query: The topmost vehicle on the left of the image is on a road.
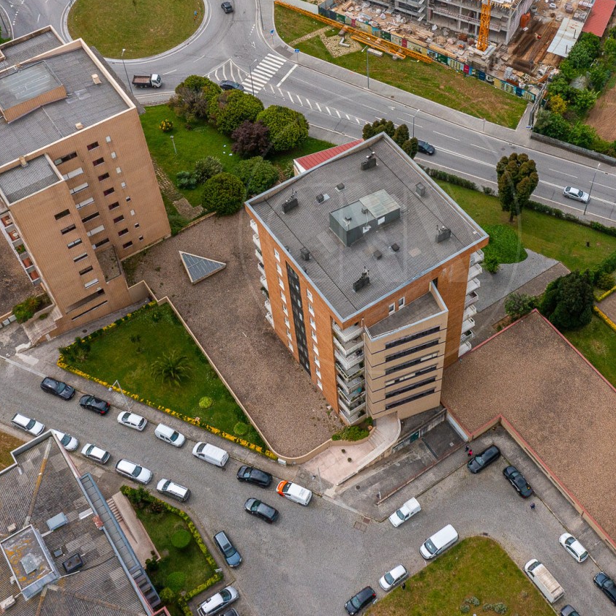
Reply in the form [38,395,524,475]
[219,1,235,17]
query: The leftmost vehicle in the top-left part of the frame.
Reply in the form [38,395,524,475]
[129,71,162,88]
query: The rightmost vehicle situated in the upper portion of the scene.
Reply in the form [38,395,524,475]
[561,185,592,203]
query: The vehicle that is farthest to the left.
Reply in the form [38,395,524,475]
[7,411,50,438]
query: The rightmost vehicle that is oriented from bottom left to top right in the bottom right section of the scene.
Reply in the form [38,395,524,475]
[464,441,504,477]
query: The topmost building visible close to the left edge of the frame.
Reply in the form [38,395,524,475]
[0,26,171,325]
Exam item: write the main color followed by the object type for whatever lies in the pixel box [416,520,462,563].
white van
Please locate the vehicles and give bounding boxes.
[499,463,537,502]
[189,440,231,470]
[7,411,50,438]
[342,583,381,616]
[114,413,150,435]
[209,528,245,570]
[51,423,82,451]
[77,442,113,466]
[37,377,78,402]
[387,490,426,530]
[273,480,314,507]
[561,185,592,203]
[234,465,275,490]
[112,458,154,485]
[413,137,439,155]
[416,520,462,563]
[590,571,616,608]
[129,71,162,88]
[216,78,245,91]
[520,558,569,607]
[464,441,504,477]
[219,1,235,17]
[377,562,411,597]
[149,419,189,449]
[77,394,114,417]
[153,479,192,504]
[241,498,280,525]
[194,585,241,616]
[555,531,593,567]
